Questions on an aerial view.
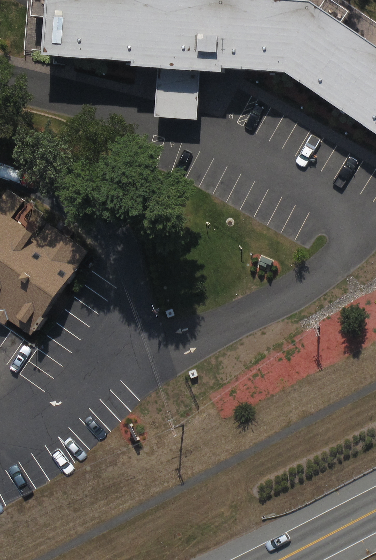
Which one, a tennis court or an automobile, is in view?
automobile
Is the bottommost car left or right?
right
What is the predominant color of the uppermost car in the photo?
black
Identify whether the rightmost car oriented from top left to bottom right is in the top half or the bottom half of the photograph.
bottom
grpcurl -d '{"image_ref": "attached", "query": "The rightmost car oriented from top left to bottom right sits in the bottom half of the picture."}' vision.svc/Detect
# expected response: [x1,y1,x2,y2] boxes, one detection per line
[84,414,107,443]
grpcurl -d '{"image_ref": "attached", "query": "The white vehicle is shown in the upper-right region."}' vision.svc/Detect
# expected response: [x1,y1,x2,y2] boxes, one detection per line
[296,134,321,167]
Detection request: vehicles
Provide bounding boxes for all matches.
[84,414,107,443]
[65,435,87,463]
[9,345,30,375]
[52,446,75,476]
[174,148,192,177]
[264,532,292,553]
[296,134,321,167]
[9,463,33,500]
[334,155,358,189]
[244,102,266,132]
